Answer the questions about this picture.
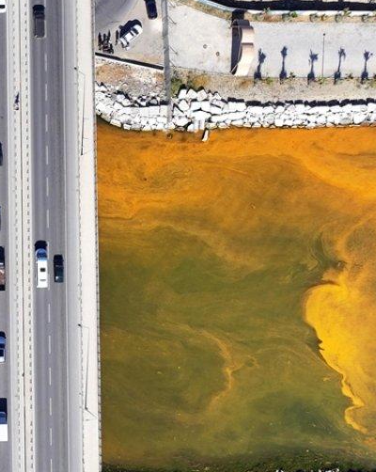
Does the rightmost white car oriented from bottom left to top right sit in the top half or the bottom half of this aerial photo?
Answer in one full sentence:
Seen from above, the rightmost white car oriented from bottom left to top right lies in the top half of the view.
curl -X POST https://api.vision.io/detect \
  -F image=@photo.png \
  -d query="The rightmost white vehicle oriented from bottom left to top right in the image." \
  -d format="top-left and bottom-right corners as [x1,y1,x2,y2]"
[119,25,142,46]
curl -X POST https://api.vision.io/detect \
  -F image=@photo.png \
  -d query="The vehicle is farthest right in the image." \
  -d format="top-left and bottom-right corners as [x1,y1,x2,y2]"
[145,0,157,18]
